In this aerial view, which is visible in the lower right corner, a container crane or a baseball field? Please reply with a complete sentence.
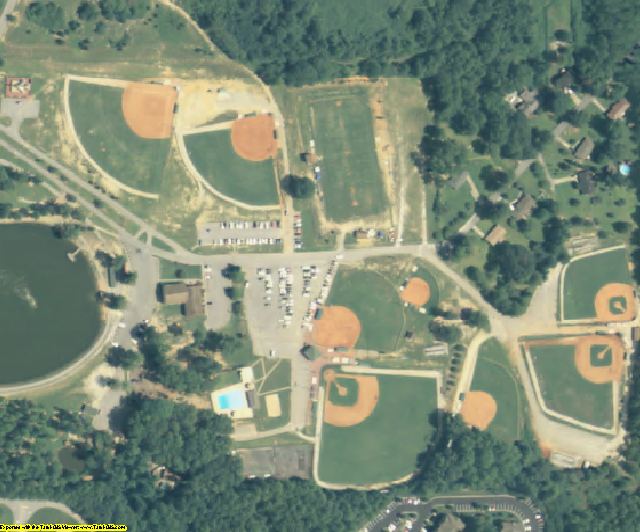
The one visible in the lower right corner is a baseball field.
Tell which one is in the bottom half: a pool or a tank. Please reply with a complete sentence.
It is a pool that can be seen in the bottom half.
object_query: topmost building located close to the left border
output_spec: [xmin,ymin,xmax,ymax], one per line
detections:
[6,78,31,98]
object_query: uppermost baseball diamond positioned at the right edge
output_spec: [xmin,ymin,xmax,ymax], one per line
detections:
[561,245,636,322]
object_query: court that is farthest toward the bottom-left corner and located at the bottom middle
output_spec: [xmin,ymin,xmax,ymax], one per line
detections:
[242,449,273,478]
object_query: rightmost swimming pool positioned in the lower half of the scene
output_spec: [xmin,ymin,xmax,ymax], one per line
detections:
[211,383,254,418]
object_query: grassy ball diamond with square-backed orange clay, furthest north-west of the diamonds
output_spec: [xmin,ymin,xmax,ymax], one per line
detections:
[64,75,176,198]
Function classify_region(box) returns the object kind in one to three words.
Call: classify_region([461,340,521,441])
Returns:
baseball field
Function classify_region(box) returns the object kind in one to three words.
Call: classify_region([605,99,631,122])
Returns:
house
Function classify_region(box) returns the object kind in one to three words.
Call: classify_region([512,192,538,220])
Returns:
house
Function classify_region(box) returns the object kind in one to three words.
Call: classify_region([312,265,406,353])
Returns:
baseball field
